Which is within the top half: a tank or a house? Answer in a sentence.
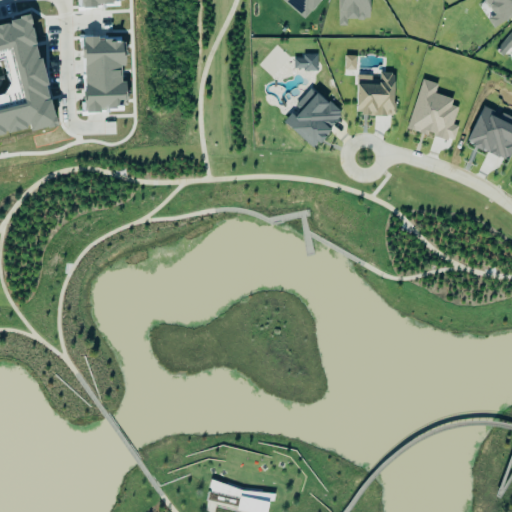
The feature located within the top half is a house.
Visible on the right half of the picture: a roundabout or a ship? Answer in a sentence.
You can see a roundabout on the right half of the picture.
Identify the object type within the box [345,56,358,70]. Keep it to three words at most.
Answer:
gazebo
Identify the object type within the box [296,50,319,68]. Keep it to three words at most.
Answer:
building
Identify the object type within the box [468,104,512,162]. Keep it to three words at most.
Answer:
house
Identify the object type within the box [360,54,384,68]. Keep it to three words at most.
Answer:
swimming pool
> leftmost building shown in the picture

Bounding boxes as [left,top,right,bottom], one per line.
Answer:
[0,12,57,140]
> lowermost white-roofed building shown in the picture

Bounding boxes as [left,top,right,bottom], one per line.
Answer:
[208,480,276,512]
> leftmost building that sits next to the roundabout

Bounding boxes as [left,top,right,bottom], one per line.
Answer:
[288,84,342,146]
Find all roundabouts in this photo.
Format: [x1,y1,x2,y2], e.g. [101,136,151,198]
[340,132,390,182]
